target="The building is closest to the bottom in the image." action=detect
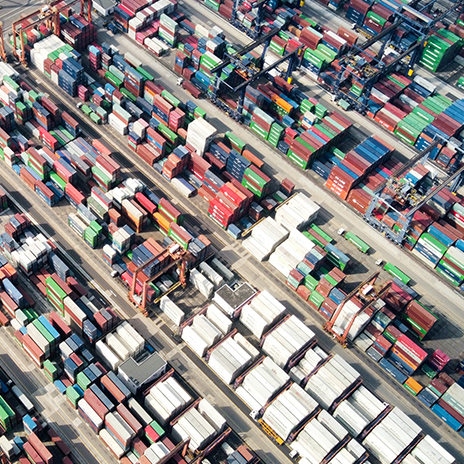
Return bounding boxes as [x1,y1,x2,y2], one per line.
[118,352,167,394]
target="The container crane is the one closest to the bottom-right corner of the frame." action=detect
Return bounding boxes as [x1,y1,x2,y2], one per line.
[325,267,397,342]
